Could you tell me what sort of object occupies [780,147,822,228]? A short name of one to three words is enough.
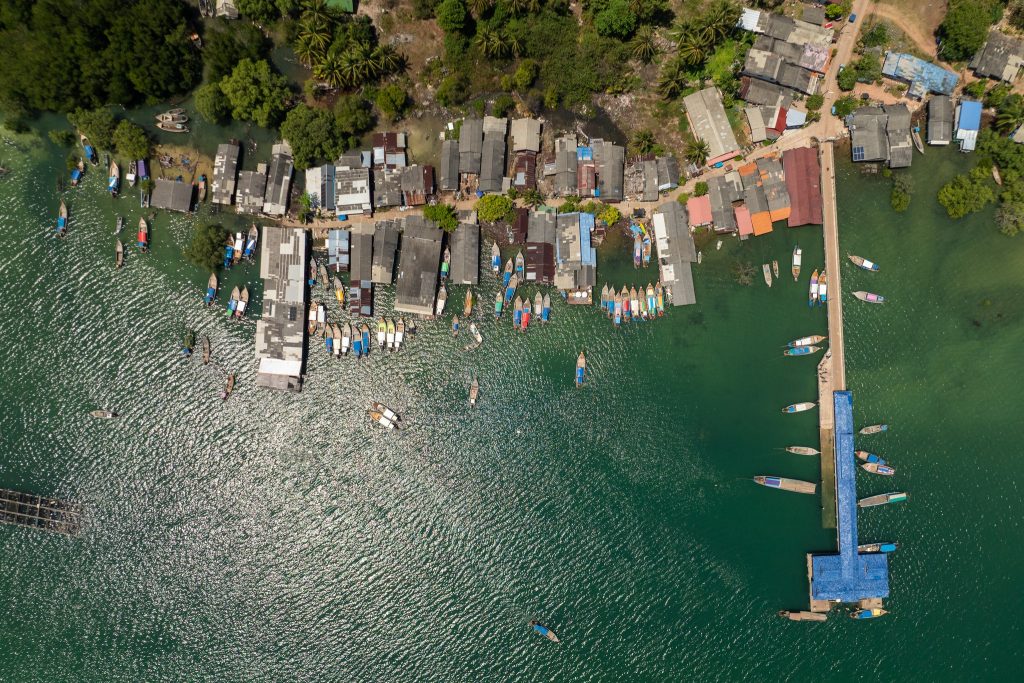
building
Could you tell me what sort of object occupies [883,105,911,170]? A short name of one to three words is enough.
house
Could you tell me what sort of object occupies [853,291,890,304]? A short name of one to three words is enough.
boat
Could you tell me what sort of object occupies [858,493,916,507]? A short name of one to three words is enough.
boat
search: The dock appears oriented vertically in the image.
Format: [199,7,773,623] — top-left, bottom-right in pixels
[805,137,887,611]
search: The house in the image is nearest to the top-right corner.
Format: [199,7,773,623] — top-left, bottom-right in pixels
[964,30,1024,85]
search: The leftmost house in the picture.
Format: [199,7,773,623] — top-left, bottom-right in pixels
[151,179,197,214]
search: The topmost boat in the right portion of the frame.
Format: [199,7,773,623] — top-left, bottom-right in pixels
[910,122,926,153]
